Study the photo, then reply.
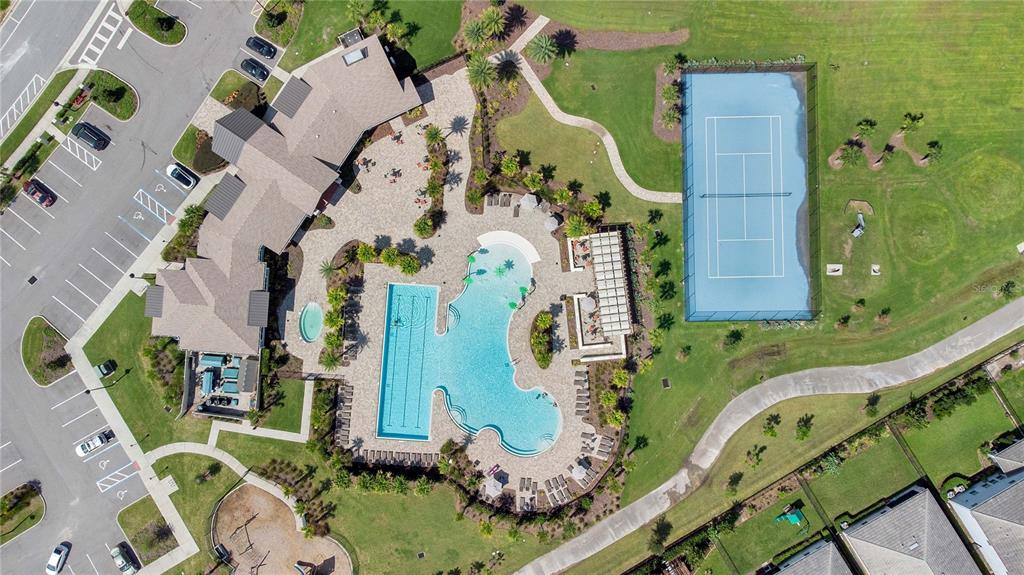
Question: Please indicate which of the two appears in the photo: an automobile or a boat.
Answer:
automobile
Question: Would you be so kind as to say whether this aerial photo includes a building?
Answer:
Yes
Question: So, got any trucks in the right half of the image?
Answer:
No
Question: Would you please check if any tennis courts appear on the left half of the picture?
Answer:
No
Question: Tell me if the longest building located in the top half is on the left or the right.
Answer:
left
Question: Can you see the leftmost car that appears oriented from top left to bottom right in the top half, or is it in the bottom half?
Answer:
top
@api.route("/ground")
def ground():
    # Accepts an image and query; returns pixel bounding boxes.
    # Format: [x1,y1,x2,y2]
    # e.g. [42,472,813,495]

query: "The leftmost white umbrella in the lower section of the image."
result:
[484,477,503,496]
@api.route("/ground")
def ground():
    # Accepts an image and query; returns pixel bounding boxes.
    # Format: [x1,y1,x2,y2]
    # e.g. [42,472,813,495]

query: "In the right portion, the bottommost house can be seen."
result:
[772,540,849,575]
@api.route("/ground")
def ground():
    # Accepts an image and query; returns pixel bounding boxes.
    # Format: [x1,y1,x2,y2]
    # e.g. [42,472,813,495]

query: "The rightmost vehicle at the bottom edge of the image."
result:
[110,546,140,575]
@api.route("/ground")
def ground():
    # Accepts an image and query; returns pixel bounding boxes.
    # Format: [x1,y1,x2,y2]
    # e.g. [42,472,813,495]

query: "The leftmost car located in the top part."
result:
[23,180,56,206]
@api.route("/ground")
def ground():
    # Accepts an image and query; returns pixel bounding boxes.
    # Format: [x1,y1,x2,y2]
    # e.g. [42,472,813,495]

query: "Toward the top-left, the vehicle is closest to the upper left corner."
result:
[72,123,110,149]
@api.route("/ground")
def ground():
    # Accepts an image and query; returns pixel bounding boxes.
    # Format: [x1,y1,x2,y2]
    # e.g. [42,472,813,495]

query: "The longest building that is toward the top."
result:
[145,34,422,356]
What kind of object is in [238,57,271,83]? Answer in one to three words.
car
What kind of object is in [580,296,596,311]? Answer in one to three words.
umbrella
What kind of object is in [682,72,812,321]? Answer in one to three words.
tennis court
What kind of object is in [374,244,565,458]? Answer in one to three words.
swimming pool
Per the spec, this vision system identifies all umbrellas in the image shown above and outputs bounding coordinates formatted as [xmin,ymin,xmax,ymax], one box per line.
[580,296,596,311]
[484,477,503,496]
[518,194,537,213]
[545,216,562,233]
[570,463,587,480]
